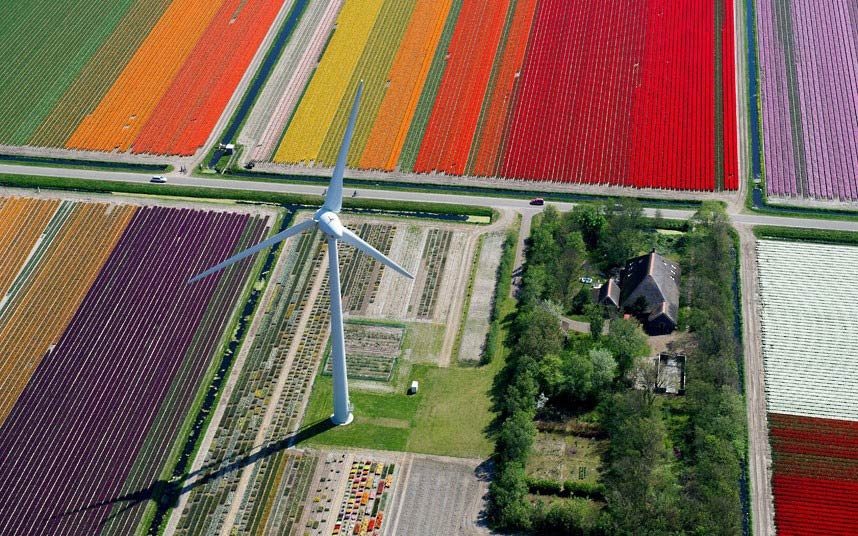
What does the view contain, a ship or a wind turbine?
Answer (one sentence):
There is a wind turbine in the scene.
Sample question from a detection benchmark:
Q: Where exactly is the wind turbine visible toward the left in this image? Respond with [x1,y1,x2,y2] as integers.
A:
[191,85,412,429]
